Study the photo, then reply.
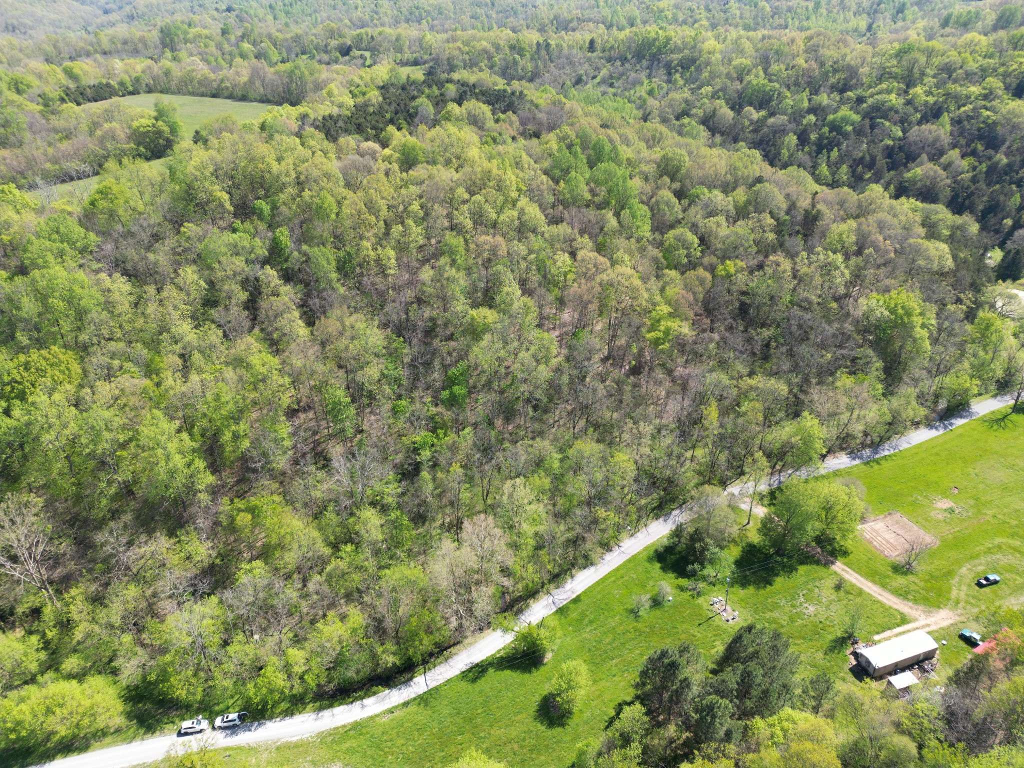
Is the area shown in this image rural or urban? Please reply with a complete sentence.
This place is rural.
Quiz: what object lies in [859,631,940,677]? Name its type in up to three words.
house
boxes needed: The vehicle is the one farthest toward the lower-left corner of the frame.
[178,710,210,732]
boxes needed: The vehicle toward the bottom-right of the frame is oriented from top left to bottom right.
[956,626,984,647]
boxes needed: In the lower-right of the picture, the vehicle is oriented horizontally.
[972,574,1001,586]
